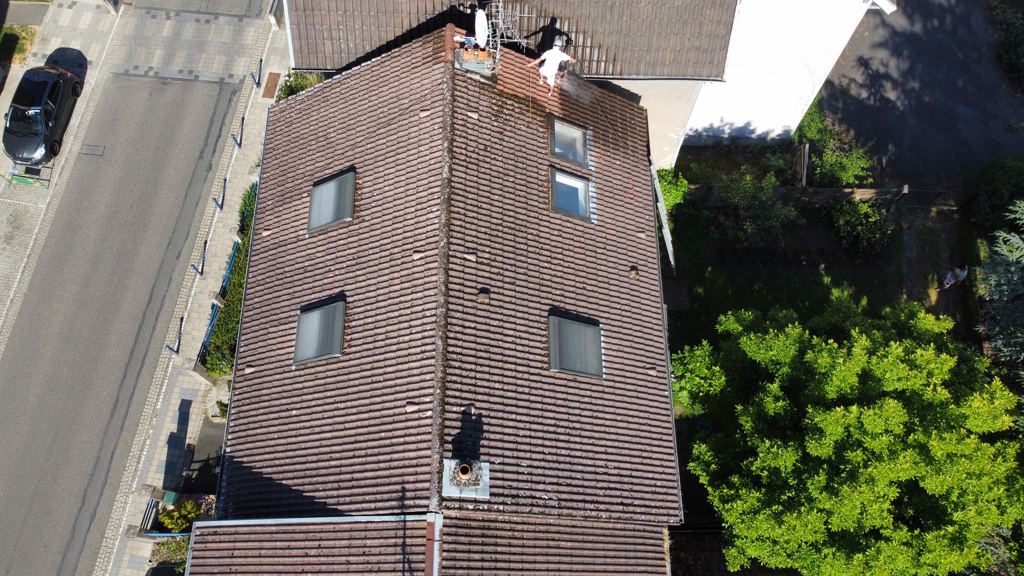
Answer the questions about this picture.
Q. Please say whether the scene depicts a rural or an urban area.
urban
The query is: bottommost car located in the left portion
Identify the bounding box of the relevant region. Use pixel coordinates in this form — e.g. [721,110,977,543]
[0,63,84,164]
